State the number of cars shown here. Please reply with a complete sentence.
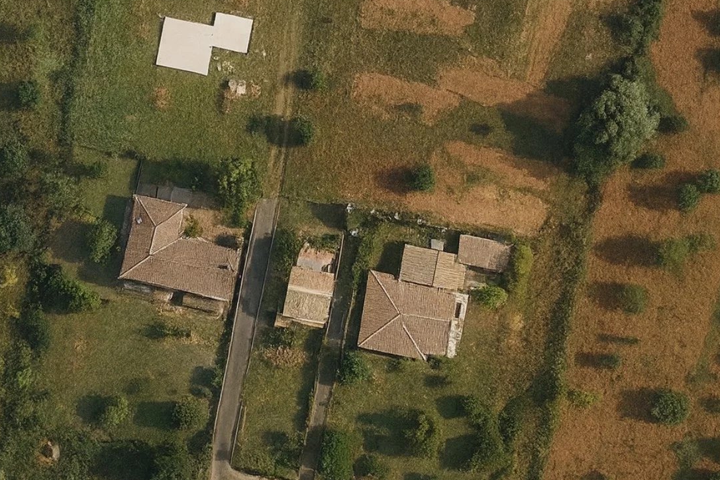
No cars are visible.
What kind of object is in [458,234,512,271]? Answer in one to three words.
barn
